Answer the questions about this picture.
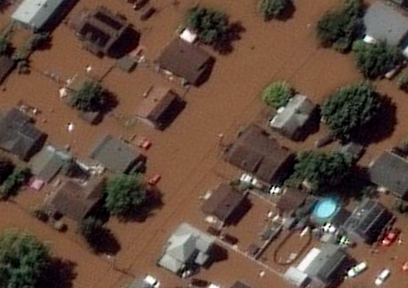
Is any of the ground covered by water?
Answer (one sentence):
Yes, there's water in this view.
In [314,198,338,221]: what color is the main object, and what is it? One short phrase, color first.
blue swimming pool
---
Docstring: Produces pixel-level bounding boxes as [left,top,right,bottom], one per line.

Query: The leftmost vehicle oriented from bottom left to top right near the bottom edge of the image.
[347,262,366,279]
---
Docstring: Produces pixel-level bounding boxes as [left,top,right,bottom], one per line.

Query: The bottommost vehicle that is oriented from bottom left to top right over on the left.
[146,173,163,187]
